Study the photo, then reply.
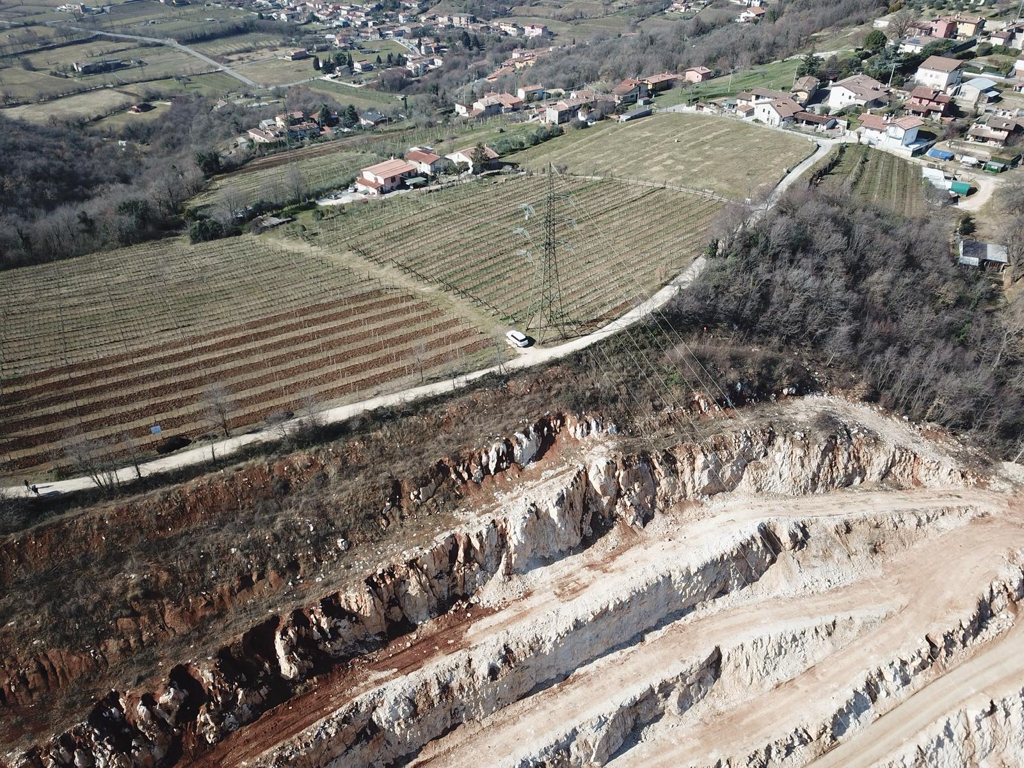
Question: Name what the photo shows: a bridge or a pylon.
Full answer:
This aerial view contains a pylon.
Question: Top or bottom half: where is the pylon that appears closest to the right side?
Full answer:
The top half of the photo is where the pylon that appears closest to the right side is.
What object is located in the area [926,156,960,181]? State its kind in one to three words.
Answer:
greenhouse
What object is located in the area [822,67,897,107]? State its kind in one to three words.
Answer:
house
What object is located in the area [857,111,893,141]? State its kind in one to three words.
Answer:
house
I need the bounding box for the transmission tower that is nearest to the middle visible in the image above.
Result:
[517,163,581,346]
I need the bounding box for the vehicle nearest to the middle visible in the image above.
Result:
[506,330,530,345]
